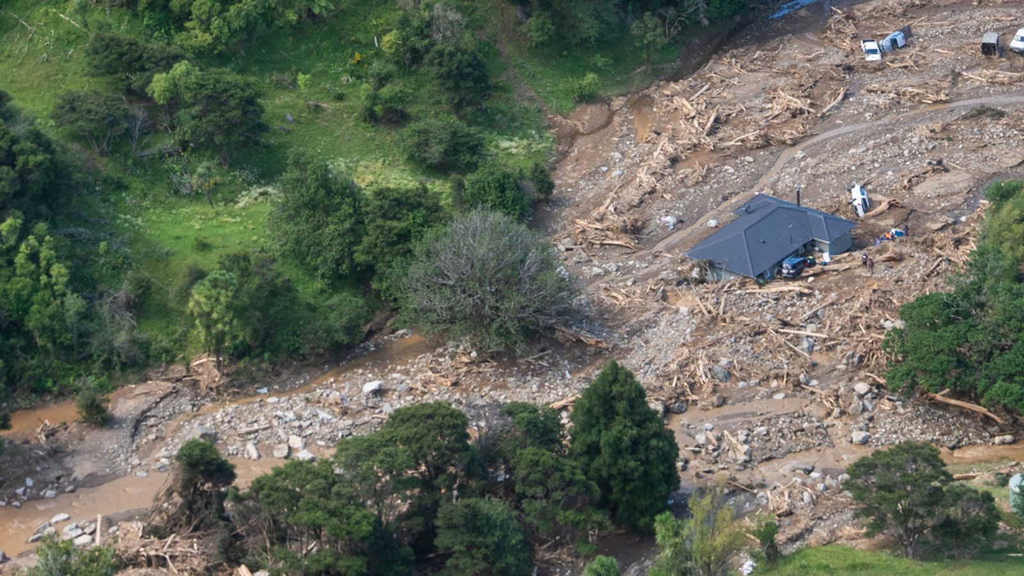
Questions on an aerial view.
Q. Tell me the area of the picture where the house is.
right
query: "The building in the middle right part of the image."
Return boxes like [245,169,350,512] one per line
[685,188,855,286]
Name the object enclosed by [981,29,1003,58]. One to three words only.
truck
